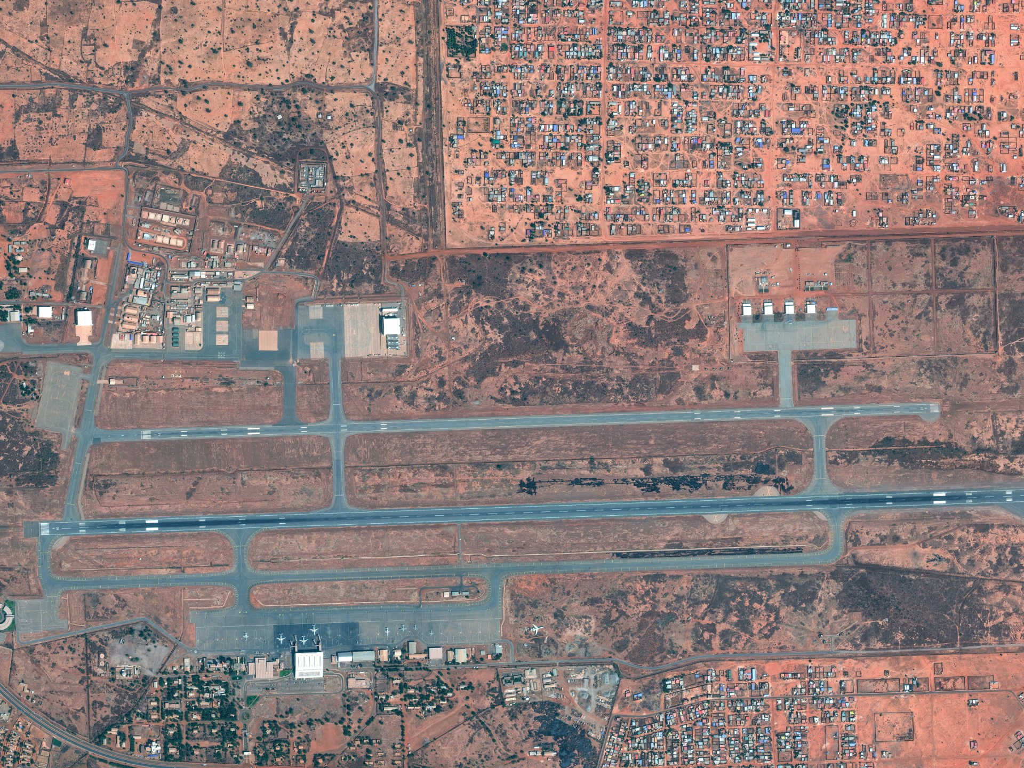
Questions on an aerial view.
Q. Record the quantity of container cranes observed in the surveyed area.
0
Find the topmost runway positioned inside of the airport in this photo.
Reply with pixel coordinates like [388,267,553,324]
[100,402,939,442]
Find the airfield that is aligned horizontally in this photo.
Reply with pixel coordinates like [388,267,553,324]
[0,246,1024,652]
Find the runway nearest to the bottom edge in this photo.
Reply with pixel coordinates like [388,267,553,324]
[39,487,1024,537]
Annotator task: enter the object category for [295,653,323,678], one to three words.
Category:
building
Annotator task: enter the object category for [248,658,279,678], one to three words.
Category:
building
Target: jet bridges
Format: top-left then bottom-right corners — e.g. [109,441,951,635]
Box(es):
[289,635,297,652]
[313,634,321,652]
